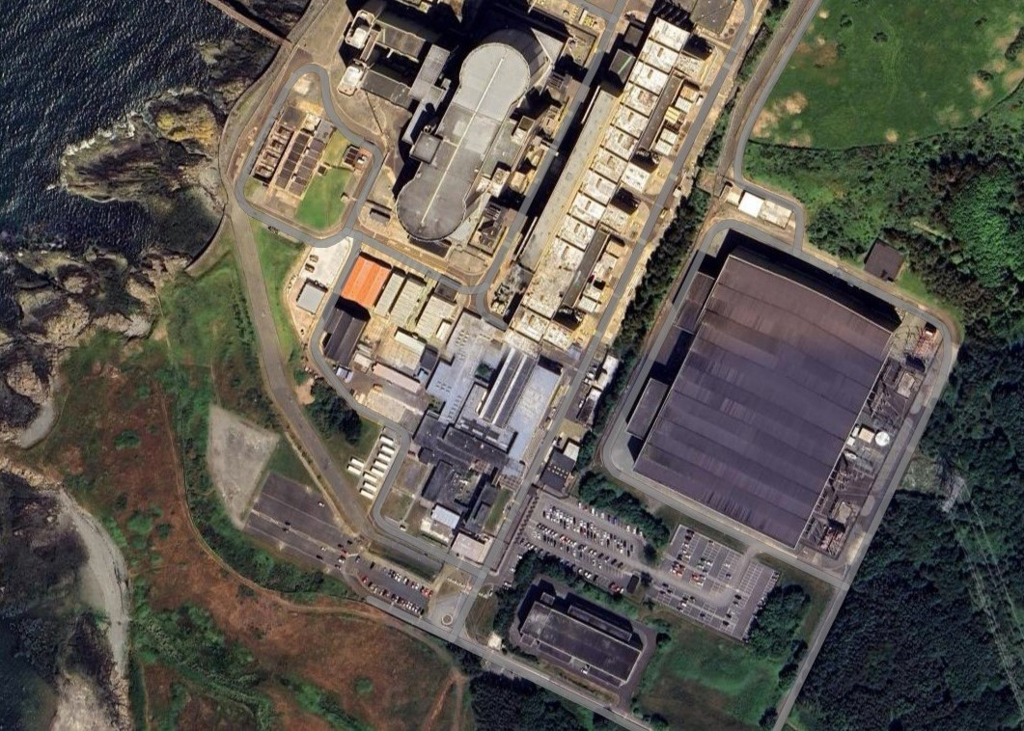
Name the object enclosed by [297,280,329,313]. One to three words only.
shed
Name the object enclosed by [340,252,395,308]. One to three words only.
building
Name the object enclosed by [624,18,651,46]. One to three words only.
house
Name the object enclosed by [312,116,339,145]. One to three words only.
building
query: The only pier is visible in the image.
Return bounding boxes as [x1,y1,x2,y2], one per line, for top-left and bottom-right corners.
[195,0,294,47]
